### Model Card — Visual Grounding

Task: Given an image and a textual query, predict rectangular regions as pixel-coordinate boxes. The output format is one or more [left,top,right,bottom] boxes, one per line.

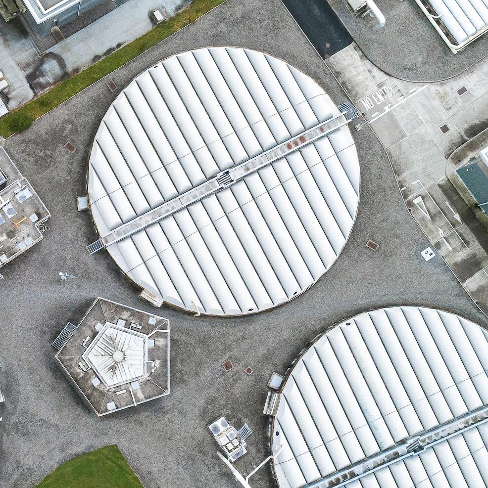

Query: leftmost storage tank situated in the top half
[78,43,363,320]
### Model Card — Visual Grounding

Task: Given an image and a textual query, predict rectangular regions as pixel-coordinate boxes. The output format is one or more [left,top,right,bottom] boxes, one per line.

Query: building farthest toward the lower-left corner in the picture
[51,297,170,416]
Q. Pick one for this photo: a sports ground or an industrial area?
industrial area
